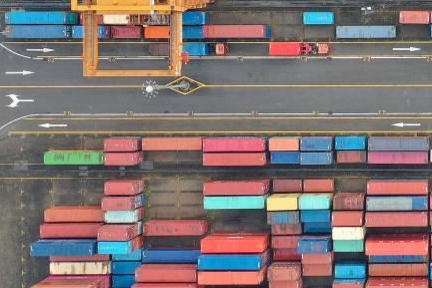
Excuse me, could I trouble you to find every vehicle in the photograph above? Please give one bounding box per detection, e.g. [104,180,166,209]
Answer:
[209,42,229,57]
[301,41,331,56]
